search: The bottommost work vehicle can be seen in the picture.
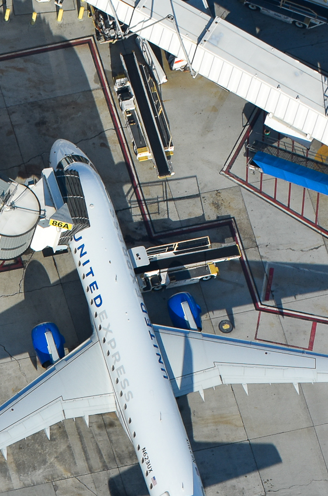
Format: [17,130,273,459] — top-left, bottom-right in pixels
[134,234,243,298]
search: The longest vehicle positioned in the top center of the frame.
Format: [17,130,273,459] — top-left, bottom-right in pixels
[112,47,180,180]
